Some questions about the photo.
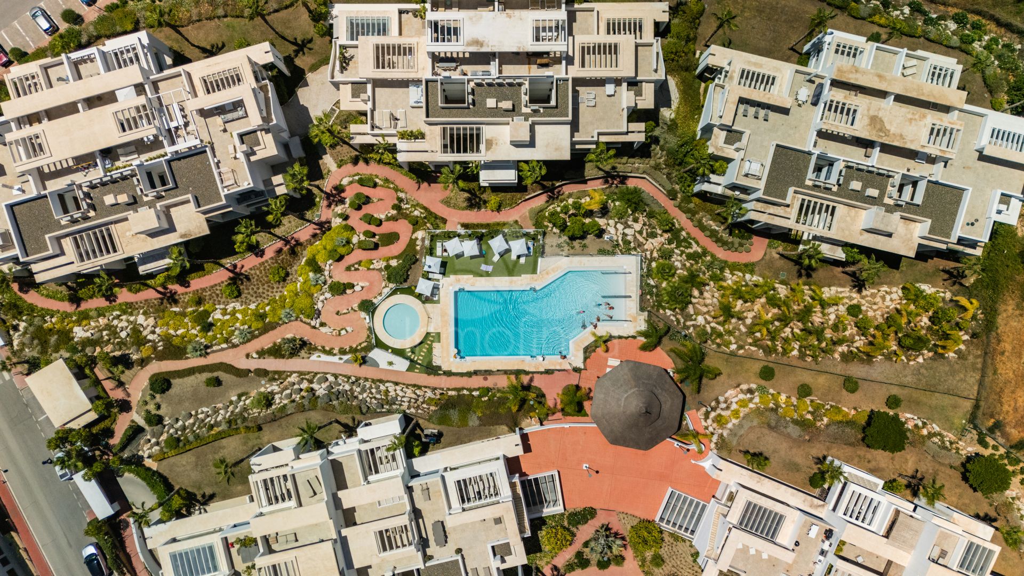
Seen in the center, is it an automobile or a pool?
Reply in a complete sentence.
There is a pool in the center.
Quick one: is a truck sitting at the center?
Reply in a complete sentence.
No, at the center there is no truck.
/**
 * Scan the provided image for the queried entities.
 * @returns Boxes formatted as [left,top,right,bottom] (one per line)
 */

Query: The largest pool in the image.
[451,266,629,360]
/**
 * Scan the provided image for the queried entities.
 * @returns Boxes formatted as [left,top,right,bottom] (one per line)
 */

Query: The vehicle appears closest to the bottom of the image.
[80,543,110,576]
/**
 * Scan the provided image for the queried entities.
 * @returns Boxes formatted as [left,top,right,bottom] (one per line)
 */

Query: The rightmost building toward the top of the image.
[688,30,1024,259]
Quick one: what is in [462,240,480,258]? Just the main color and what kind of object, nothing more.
white umbrella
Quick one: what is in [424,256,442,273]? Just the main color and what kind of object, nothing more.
white umbrella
